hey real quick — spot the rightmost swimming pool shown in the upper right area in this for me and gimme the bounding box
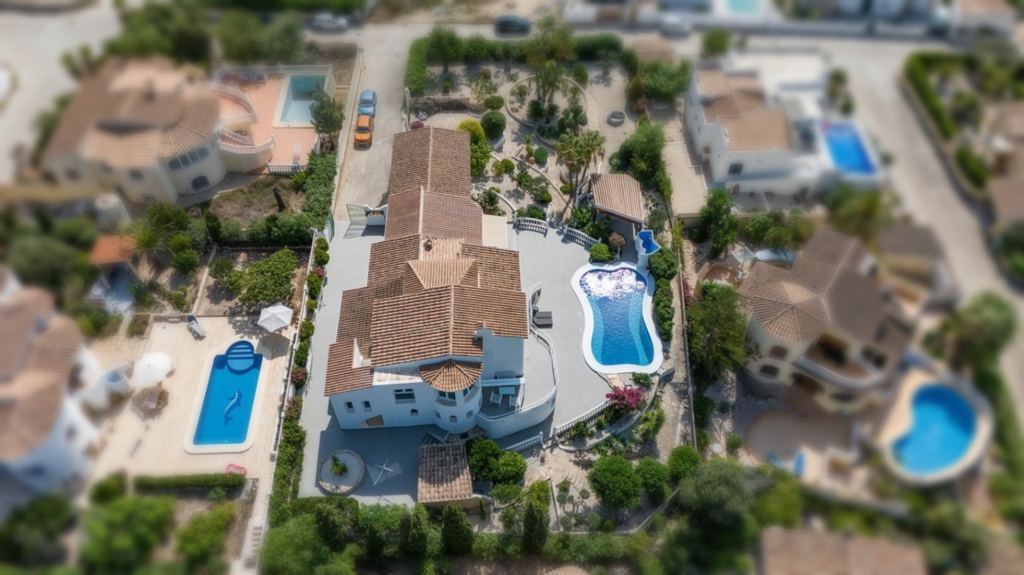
[809,117,890,192]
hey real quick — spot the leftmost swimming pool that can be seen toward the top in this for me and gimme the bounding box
[274,73,329,126]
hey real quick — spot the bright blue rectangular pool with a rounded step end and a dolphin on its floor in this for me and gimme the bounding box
[185,334,269,454]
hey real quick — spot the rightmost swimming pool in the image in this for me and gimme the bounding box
[873,371,989,493]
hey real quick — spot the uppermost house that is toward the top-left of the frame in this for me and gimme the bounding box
[36,62,262,206]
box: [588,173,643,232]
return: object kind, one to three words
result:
building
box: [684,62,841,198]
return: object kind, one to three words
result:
house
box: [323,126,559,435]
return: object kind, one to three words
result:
house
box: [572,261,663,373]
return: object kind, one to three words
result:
swimming pool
